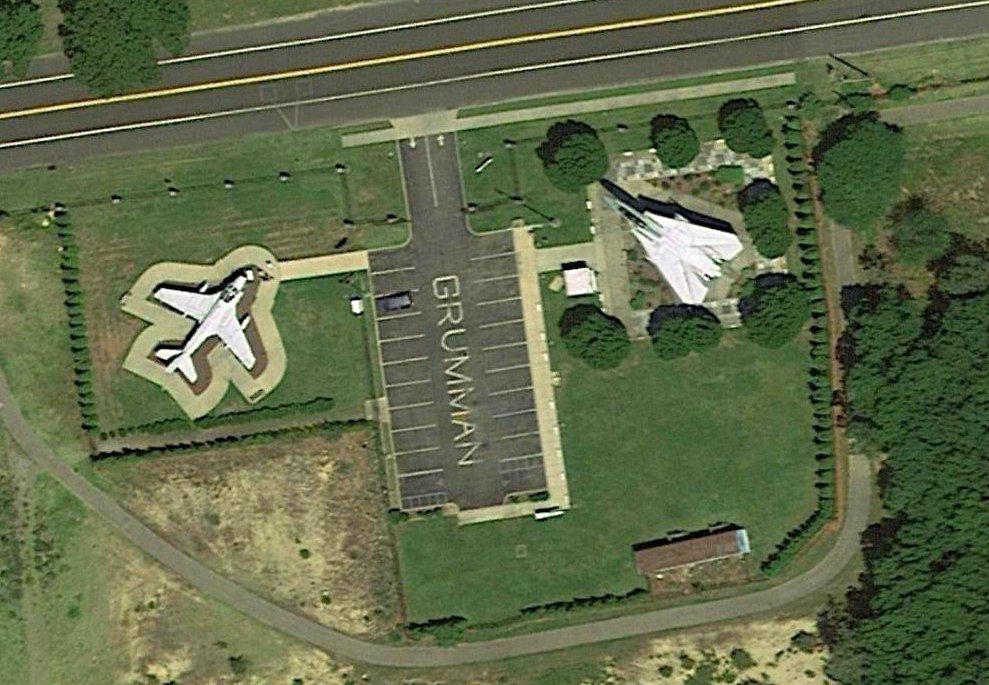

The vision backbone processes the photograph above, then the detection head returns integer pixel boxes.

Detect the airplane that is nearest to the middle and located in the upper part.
[604,197,742,305]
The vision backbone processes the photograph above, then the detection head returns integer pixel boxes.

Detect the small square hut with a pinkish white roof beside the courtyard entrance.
[563,268,602,297]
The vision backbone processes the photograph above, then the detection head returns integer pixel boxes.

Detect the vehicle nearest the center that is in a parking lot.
[377,293,414,311]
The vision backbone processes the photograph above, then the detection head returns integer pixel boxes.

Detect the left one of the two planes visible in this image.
[153,275,253,382]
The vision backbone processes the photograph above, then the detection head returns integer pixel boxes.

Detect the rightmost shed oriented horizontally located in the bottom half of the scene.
[635,530,751,574]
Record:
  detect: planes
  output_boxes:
[604,197,742,305]
[153,275,253,382]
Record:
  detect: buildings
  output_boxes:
[635,530,751,574]
[563,268,602,297]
